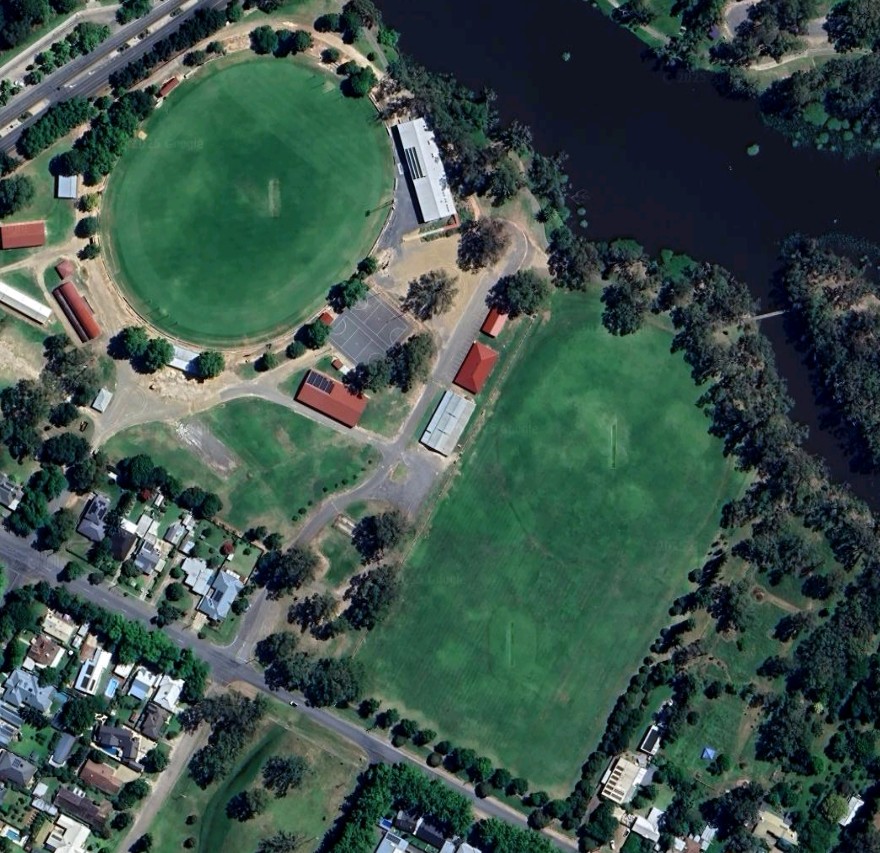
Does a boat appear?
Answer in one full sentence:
No, I find no boat anywhere in the image.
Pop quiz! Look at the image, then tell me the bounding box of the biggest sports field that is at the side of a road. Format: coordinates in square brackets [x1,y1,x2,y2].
[360,292,742,795]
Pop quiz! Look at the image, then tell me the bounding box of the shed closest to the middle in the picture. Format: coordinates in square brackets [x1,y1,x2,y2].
[422,390,476,459]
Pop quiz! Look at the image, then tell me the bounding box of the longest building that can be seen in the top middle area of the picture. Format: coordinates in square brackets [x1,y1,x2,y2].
[397,116,455,222]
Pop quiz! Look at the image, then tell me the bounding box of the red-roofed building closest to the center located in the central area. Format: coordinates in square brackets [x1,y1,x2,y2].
[454,341,498,395]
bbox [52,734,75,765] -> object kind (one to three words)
shed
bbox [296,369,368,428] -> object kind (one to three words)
building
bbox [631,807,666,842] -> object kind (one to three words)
house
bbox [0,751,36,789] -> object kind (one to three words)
house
